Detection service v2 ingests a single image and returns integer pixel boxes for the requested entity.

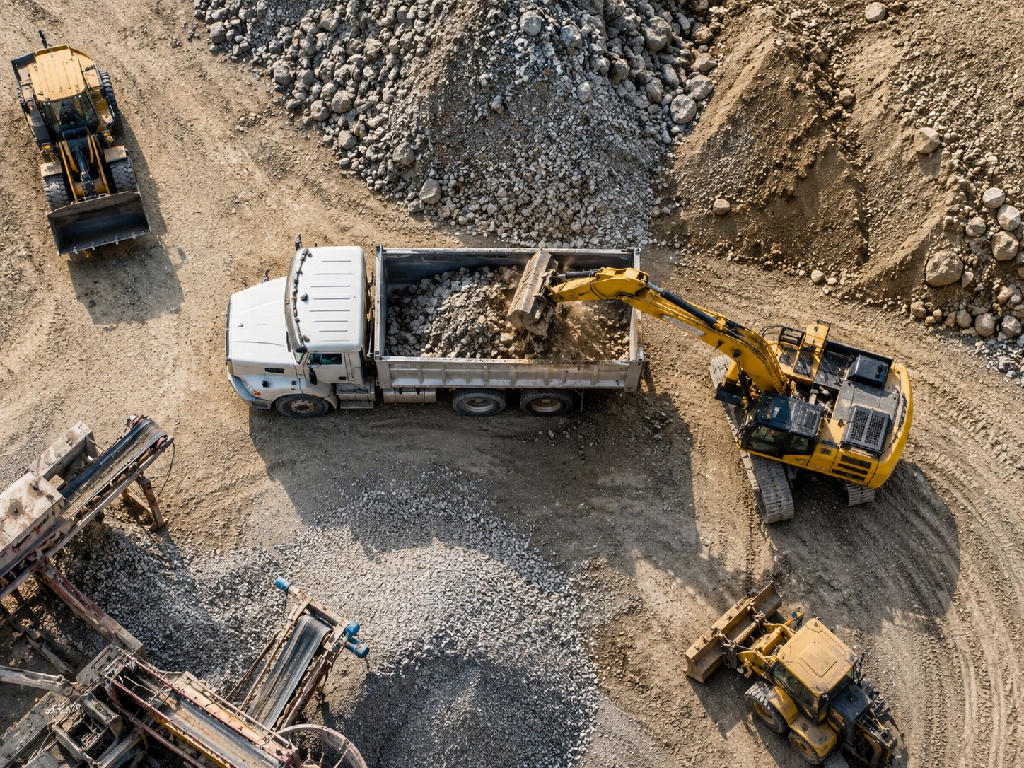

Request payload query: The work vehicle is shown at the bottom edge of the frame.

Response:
[674,577,899,768]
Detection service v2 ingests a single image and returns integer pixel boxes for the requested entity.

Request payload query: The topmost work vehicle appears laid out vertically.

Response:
[19,29,155,260]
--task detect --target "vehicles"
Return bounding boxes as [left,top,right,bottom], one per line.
[19,29,155,260]
[220,233,646,415]
[674,577,899,768]
[510,244,913,523]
